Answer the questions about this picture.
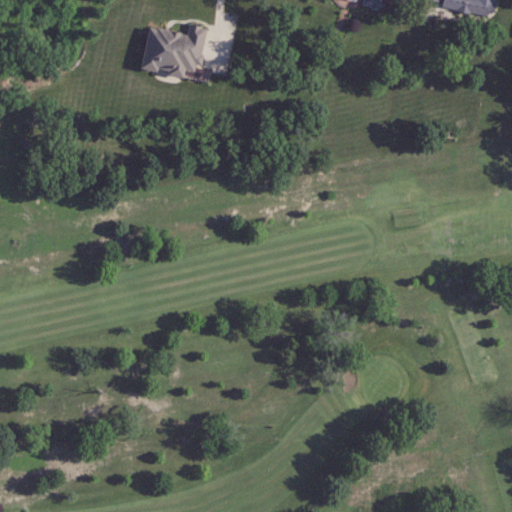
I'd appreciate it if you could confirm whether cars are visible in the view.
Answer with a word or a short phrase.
No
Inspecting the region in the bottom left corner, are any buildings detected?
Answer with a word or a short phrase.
No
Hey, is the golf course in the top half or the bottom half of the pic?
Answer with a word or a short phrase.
bottom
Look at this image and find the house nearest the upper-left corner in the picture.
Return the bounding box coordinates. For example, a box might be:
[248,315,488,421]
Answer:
[141,22,211,78]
